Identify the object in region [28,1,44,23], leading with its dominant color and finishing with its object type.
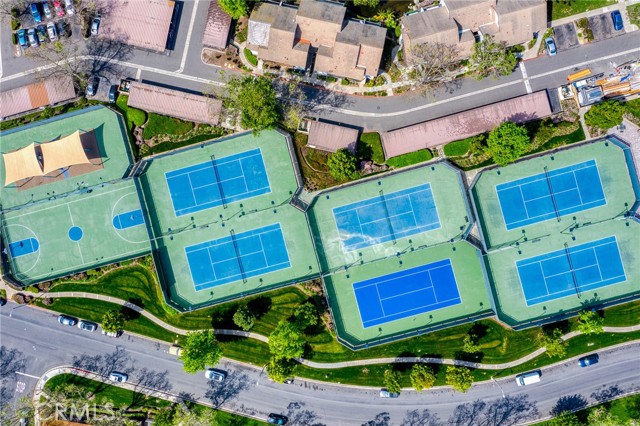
blue car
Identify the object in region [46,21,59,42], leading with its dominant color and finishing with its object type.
white vehicle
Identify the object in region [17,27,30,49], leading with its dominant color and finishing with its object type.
blue vehicle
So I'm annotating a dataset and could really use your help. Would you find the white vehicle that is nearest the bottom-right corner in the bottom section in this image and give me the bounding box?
[517,372,541,385]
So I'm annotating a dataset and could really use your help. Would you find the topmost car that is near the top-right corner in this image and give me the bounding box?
[609,8,624,32]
